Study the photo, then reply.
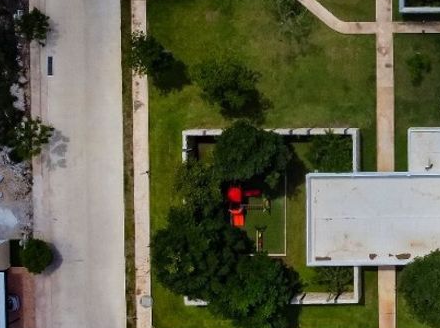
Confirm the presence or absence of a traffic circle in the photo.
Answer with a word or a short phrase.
No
